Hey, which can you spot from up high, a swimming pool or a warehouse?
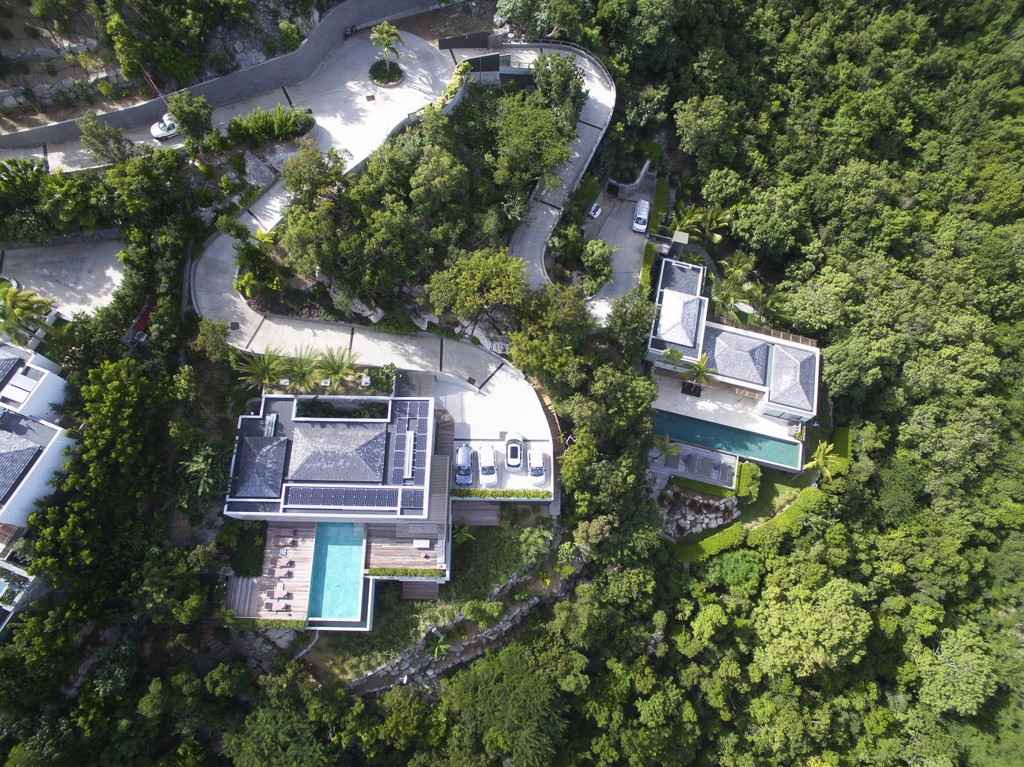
swimming pool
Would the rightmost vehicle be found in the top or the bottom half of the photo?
top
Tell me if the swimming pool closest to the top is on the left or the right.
right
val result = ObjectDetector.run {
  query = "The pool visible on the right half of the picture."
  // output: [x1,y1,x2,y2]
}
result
[645,406,801,469]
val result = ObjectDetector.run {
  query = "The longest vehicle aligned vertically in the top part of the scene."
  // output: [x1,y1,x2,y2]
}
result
[631,195,651,233]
